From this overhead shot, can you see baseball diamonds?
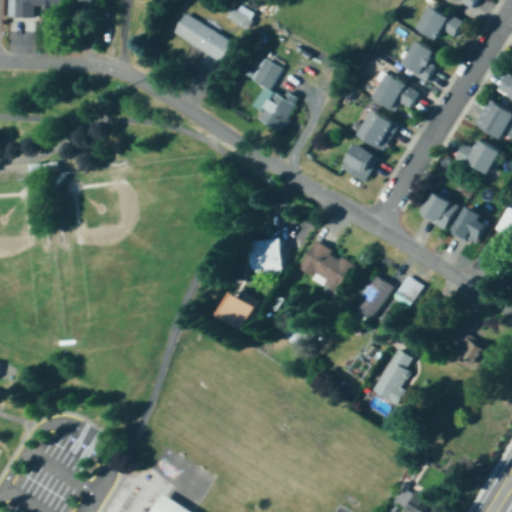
Yes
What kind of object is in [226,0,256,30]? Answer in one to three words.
building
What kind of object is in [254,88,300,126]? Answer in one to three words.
house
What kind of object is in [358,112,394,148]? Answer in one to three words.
house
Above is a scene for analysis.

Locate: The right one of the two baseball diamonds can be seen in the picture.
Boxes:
[70,173,206,324]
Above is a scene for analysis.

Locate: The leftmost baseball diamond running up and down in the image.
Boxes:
[0,189,38,323]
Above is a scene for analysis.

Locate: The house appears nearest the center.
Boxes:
[250,238,283,272]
